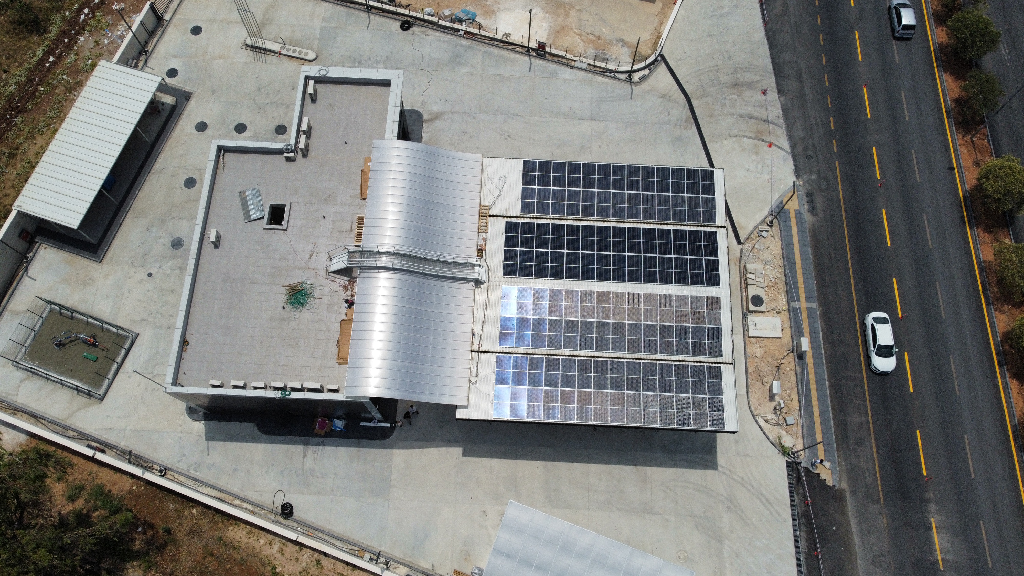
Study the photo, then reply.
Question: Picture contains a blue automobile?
No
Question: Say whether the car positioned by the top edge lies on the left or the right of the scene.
right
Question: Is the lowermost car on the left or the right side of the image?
right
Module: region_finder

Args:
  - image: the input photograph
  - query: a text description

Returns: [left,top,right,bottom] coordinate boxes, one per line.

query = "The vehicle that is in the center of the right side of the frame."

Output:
[863,316,901,377]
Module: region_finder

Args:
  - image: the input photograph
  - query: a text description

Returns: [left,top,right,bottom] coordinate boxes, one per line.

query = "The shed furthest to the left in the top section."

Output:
[12,60,172,244]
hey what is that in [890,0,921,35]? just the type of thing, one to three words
car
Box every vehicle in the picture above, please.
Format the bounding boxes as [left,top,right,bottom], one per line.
[890,0,921,35]
[863,316,901,377]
